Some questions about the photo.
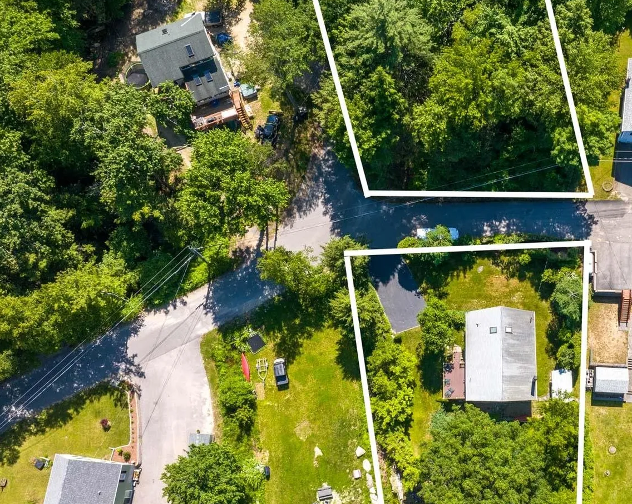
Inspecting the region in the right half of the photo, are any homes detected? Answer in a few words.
Yes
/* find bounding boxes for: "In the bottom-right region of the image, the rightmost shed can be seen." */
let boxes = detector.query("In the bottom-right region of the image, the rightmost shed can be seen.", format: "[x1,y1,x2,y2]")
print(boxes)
[593,366,629,399]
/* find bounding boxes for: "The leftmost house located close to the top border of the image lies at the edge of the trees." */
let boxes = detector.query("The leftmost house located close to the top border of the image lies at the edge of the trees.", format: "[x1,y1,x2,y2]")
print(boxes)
[136,13,253,133]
